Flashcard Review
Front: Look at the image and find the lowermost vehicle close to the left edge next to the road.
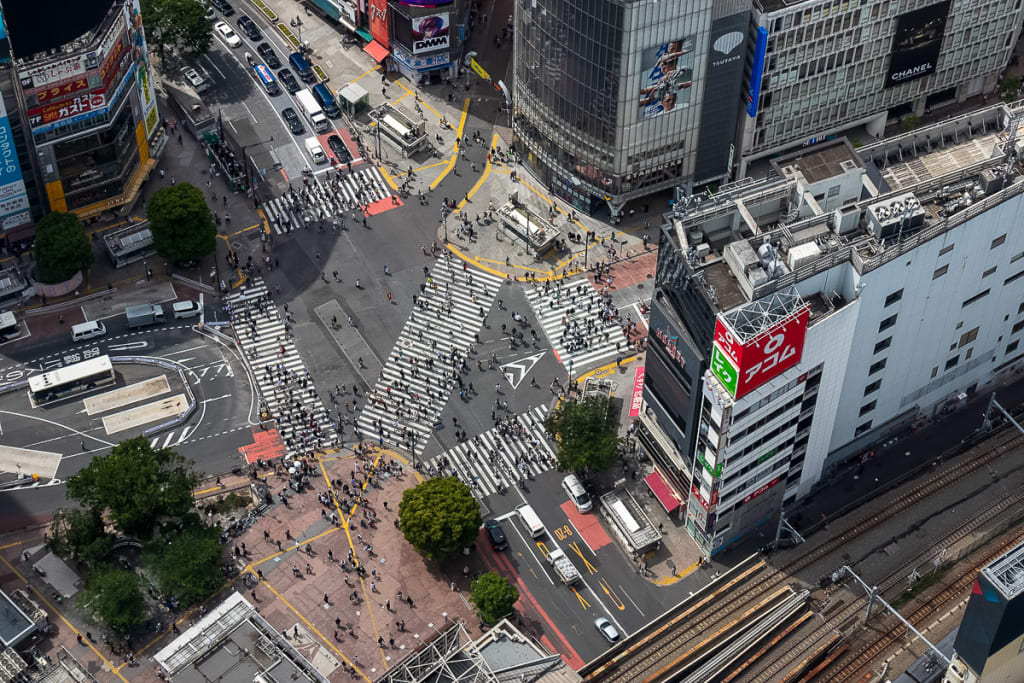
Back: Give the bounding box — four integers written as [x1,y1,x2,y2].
[27,353,113,401]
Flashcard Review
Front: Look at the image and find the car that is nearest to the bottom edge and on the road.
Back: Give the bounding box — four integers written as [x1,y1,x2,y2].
[593,614,623,647]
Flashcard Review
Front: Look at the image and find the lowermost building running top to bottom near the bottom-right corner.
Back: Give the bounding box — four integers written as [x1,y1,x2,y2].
[956,538,1024,683]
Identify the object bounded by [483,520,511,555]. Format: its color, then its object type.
black car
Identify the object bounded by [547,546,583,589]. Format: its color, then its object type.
white truck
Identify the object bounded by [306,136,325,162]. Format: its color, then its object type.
white vehicle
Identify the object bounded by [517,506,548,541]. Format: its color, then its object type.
white van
